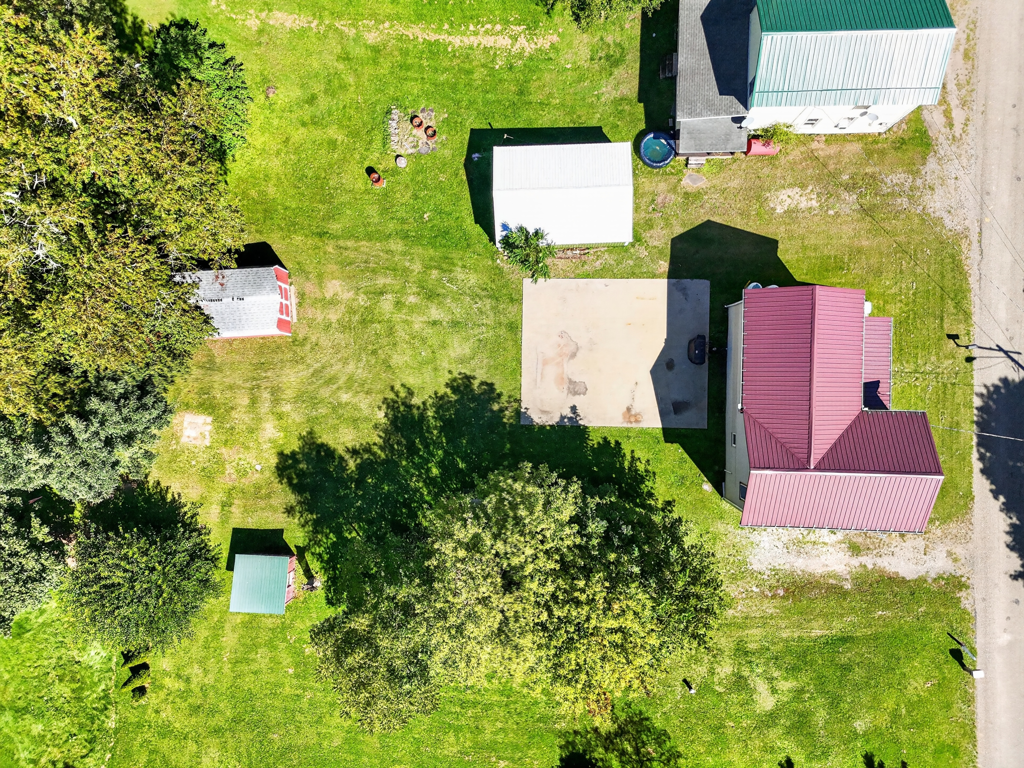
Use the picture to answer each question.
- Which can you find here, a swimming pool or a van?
swimming pool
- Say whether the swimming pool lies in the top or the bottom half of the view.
top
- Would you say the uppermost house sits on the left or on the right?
right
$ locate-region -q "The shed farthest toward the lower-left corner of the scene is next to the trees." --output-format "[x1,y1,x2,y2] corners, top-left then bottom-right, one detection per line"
[227,554,294,614]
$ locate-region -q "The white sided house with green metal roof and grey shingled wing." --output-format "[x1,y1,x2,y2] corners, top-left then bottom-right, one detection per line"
[648,0,957,172]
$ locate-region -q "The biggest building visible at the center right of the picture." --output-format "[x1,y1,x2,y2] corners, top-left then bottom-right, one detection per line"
[715,285,943,534]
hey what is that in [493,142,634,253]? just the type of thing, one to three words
building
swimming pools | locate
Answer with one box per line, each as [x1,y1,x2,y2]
[638,130,673,169]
